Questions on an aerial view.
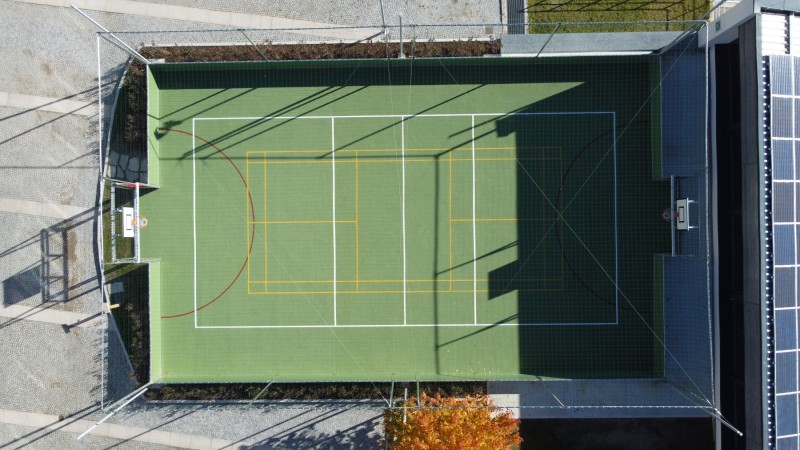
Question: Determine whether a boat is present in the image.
No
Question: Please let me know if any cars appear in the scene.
No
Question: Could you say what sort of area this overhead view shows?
sports ground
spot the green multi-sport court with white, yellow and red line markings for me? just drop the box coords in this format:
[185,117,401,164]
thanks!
[138,60,674,376]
